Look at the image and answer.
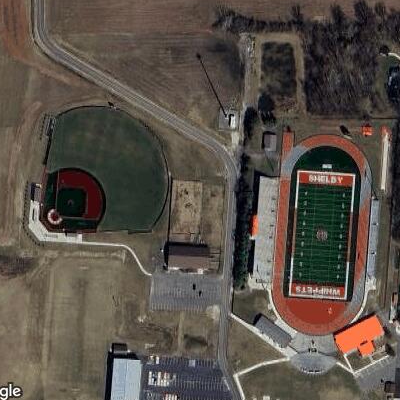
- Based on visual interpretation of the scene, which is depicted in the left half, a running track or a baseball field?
baseball field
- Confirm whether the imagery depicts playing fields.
Yes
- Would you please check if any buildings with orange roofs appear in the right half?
Yes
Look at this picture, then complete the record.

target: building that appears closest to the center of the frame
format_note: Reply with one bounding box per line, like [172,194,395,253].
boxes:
[166,245,210,271]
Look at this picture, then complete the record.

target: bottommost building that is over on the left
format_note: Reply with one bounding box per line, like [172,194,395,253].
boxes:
[111,359,142,400]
